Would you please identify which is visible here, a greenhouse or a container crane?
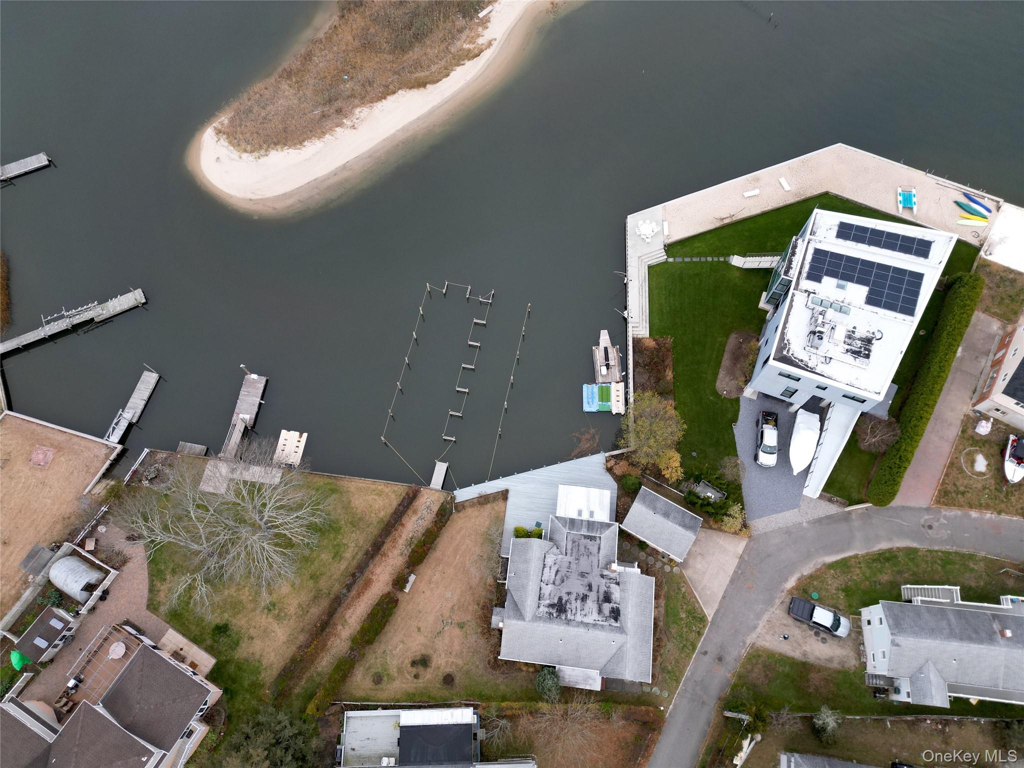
greenhouse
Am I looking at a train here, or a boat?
boat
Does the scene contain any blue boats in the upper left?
No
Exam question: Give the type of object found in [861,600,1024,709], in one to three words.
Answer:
house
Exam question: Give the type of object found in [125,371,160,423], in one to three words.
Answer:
pier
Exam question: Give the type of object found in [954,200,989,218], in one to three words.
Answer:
boat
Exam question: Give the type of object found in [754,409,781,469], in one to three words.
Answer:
truck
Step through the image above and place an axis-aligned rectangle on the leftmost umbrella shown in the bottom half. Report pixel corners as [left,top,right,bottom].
[9,649,39,669]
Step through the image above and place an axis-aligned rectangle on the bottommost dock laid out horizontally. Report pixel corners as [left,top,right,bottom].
[176,442,208,457]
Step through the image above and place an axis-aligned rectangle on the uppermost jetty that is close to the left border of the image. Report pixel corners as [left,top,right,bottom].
[0,152,50,183]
